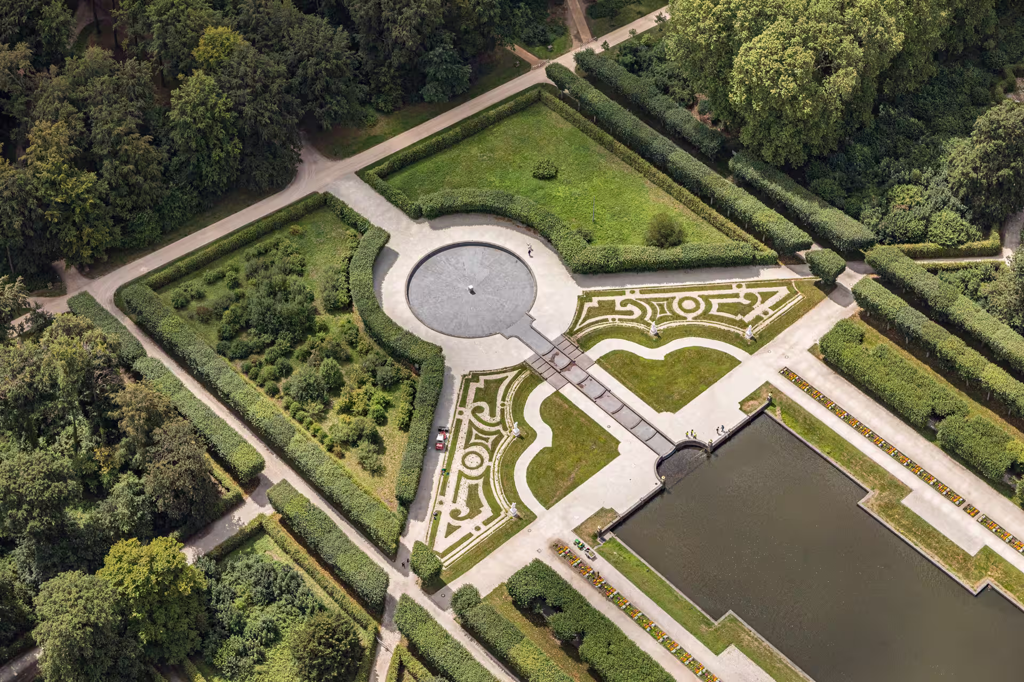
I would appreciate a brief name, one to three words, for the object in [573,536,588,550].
work vehicle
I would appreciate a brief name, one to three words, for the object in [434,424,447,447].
vehicle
